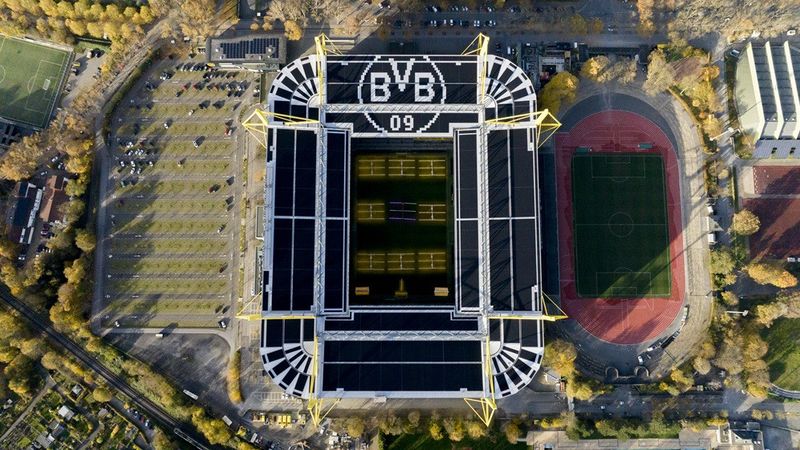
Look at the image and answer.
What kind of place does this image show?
sports ground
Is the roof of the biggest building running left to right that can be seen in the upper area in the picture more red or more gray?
gray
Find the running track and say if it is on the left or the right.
right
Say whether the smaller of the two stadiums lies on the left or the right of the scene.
right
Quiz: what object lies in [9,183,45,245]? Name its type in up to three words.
building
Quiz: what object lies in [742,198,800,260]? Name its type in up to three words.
sports court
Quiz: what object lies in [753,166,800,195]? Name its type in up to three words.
sports court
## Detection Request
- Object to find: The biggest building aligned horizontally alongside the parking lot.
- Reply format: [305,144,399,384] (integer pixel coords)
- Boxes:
[207,34,289,72]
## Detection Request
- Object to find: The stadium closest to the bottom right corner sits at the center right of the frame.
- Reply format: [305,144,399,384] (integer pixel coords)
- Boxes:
[552,87,714,379]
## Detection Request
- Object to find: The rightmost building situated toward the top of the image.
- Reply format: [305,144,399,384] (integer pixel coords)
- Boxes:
[731,41,800,159]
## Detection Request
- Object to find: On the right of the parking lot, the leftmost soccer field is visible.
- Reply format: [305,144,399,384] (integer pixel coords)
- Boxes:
[350,145,454,309]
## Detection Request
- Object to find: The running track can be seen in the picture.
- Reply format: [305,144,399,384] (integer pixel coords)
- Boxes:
[574,110,686,345]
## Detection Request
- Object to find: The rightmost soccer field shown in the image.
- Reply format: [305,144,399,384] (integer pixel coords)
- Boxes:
[573,154,671,298]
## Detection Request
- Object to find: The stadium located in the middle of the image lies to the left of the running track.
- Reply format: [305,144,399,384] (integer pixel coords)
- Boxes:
[235,31,570,423]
